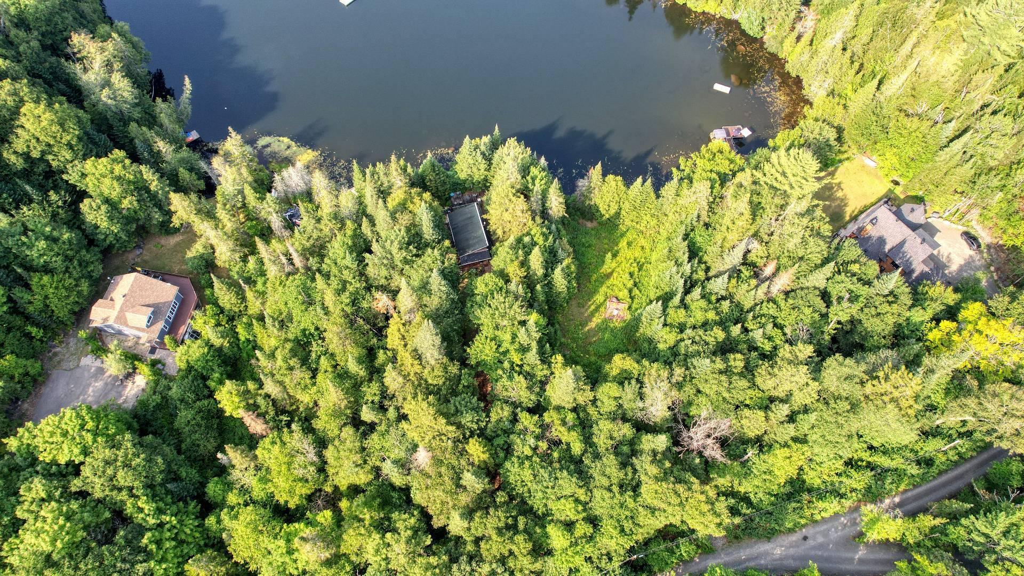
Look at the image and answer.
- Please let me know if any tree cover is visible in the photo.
Yes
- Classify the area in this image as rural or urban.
rural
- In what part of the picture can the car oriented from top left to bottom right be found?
right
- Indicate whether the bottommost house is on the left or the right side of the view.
left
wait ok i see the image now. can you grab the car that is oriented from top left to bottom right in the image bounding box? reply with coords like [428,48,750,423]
[960,227,986,251]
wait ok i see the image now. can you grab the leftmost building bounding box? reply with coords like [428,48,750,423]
[90,273,189,352]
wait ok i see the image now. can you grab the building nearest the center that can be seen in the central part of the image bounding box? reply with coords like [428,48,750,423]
[446,201,492,271]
